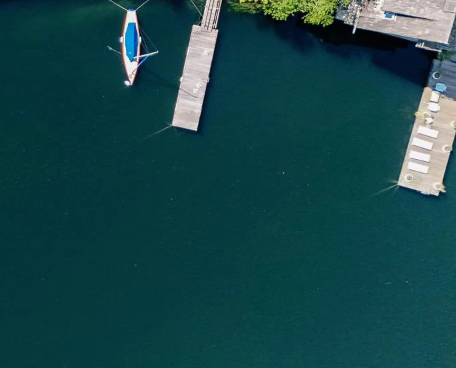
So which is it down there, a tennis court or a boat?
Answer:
boat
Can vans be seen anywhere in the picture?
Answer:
No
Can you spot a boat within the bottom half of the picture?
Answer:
No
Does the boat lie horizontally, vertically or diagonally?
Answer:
vertically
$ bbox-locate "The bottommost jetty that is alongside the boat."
[172,24,218,131]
